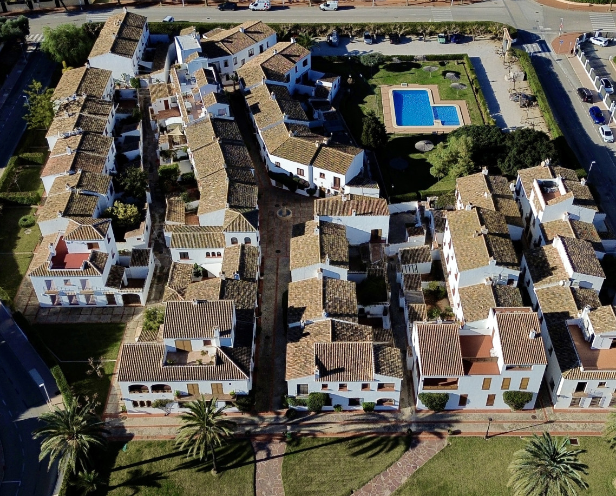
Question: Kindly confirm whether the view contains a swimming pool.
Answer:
Yes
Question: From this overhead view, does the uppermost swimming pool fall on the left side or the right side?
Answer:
right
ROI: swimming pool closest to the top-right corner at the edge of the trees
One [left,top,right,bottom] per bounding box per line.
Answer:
[392,87,460,127]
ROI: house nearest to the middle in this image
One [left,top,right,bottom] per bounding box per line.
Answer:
[289,216,349,284]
